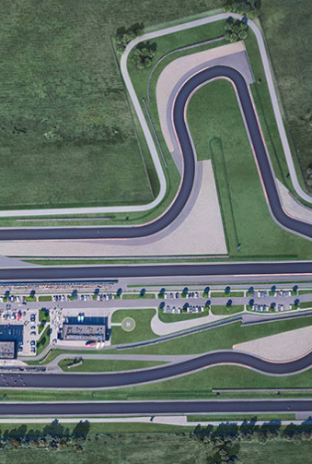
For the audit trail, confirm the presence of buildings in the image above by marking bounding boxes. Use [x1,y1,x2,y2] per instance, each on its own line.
[57,326,106,341]
[0,342,17,359]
